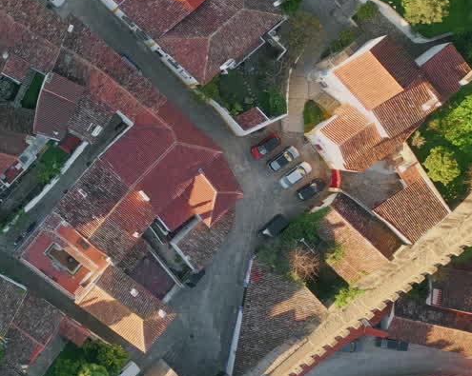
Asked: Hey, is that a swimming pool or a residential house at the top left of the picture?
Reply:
residential house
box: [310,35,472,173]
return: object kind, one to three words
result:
house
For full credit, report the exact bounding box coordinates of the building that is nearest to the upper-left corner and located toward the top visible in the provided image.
[0,0,77,82]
